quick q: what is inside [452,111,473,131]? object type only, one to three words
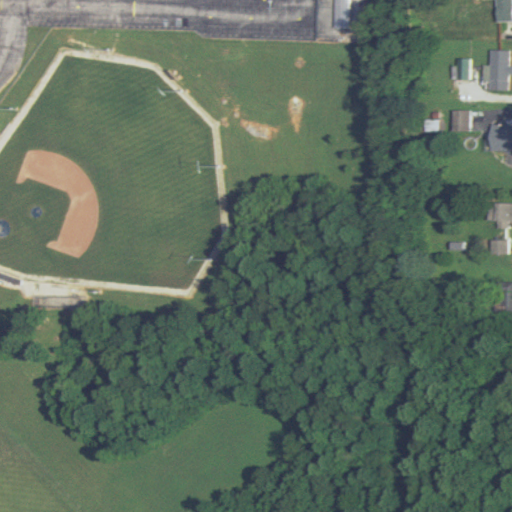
building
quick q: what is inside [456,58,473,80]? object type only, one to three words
barn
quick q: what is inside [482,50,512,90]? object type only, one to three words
house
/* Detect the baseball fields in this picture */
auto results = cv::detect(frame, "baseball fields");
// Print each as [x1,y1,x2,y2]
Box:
[0,48,229,296]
